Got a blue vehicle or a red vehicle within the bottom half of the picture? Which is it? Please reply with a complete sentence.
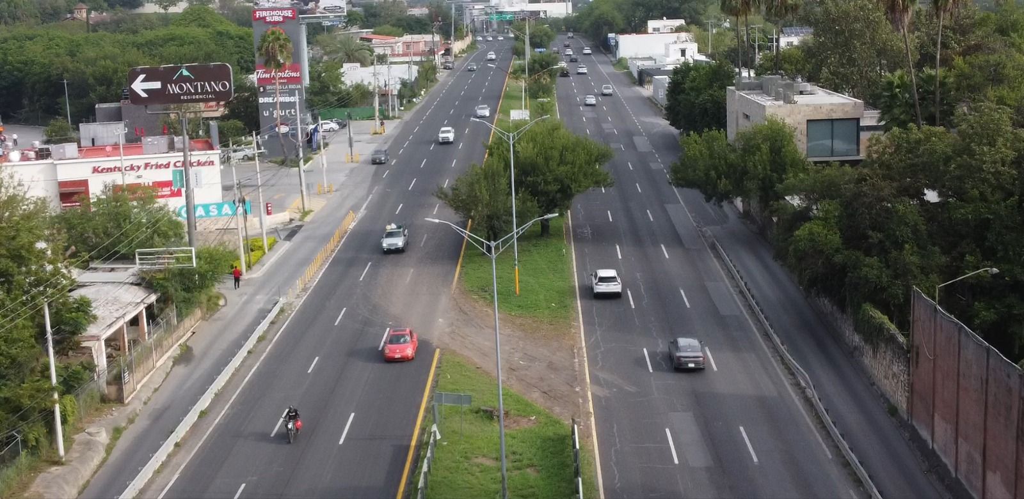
You can see a red vehicle within the bottom half of the picture.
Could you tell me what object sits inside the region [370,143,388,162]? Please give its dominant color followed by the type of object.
gray car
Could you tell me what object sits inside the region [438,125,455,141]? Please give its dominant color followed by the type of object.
white car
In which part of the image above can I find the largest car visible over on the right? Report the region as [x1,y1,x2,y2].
[664,329,706,364]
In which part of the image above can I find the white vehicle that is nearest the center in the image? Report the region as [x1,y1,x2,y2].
[588,262,621,292]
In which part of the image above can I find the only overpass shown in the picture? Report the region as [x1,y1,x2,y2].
[419,0,572,29]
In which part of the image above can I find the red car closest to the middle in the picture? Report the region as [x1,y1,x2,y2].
[378,324,415,359]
